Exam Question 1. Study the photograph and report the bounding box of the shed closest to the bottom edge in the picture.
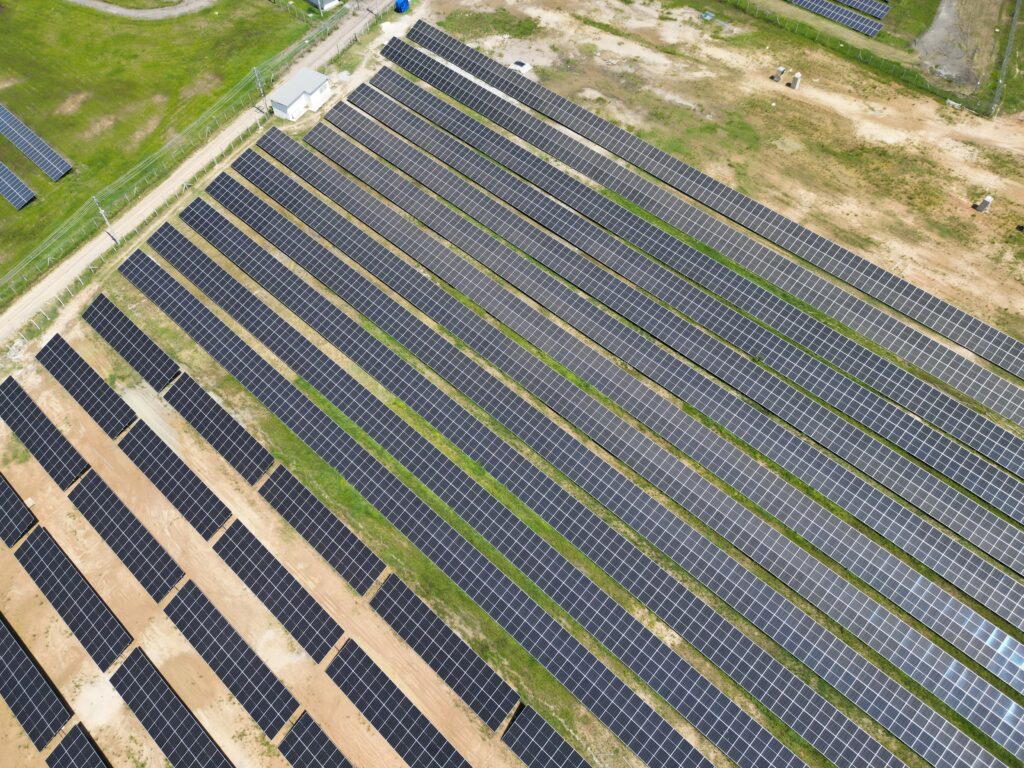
[269,67,332,121]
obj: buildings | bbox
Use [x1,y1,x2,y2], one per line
[298,0,347,21]
[269,67,332,121]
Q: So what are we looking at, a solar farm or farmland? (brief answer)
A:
solar farm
